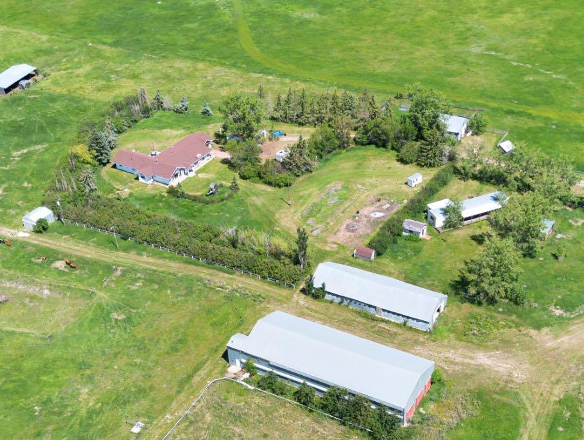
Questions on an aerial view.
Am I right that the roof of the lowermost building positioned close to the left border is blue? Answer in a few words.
No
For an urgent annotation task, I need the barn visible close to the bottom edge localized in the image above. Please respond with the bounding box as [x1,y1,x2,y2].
[227,310,434,423]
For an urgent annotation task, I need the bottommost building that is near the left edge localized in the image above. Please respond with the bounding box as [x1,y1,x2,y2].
[21,207,54,231]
